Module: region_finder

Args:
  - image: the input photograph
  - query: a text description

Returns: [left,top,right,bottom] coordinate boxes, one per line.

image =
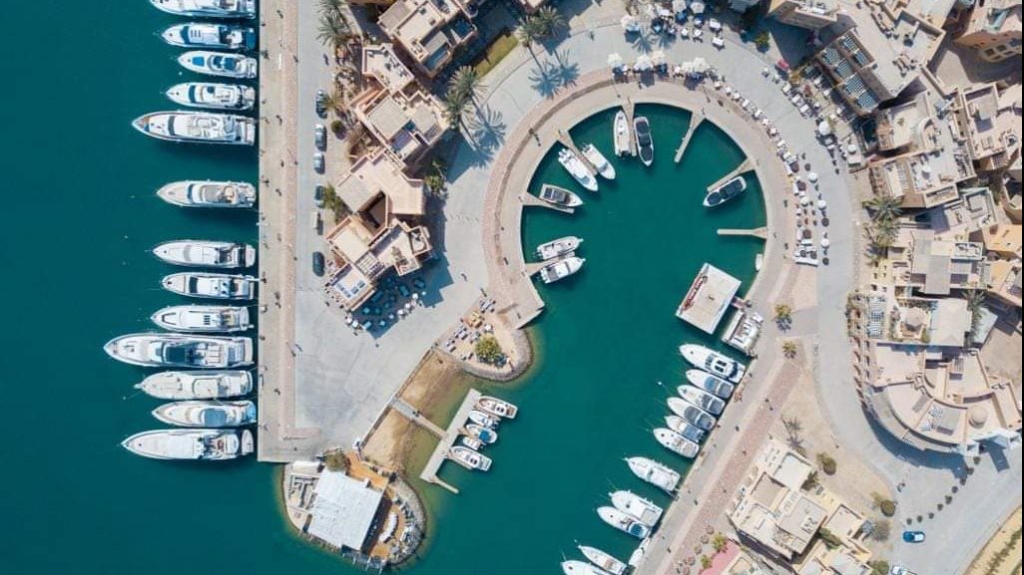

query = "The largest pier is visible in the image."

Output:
[420,389,481,483]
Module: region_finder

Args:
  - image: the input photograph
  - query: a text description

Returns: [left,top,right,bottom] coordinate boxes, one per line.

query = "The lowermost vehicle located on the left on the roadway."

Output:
[311,251,324,276]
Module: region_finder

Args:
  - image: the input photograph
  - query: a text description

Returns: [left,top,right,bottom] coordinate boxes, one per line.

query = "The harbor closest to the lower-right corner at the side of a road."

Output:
[518,99,771,575]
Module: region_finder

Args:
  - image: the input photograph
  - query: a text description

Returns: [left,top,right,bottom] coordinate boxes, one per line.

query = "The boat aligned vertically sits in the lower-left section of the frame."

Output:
[242,430,255,456]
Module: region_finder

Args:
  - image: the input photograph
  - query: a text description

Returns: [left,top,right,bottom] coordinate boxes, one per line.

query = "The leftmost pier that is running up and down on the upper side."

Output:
[622,103,637,157]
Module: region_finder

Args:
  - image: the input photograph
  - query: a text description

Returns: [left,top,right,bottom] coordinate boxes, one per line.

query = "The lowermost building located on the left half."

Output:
[287,451,401,572]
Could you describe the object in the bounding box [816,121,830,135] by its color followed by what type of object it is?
white umbrella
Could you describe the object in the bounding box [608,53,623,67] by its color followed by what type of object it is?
white umbrella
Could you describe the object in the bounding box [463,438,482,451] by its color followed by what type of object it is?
white boat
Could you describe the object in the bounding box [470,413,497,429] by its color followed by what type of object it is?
white boat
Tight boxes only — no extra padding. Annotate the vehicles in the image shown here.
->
[312,151,324,174]
[311,251,324,276]
[311,213,320,227]
[314,92,326,117]
[313,183,325,207]
[902,530,925,544]
[313,123,325,148]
